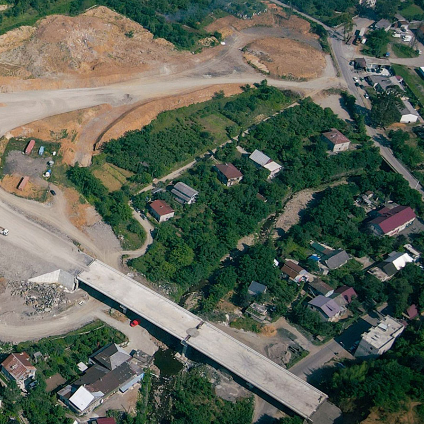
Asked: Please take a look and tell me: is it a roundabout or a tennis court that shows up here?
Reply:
roundabout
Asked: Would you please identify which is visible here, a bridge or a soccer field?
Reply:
bridge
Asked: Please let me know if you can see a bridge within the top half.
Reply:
No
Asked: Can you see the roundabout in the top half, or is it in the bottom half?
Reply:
top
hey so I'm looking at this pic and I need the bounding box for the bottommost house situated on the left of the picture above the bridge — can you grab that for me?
[149,200,175,226]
